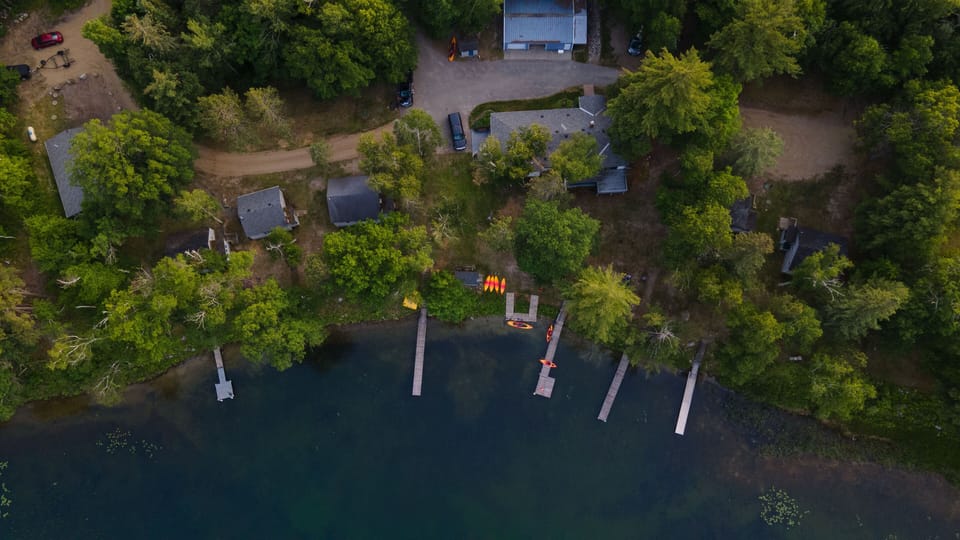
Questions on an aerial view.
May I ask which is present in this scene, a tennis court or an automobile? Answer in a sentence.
The one in the frame is an automobile.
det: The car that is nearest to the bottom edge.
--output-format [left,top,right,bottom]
[447,109,467,150]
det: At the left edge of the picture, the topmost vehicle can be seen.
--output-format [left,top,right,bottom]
[26,28,63,49]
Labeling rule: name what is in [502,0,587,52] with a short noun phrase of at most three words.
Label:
building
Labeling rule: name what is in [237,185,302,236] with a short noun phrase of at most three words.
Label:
house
